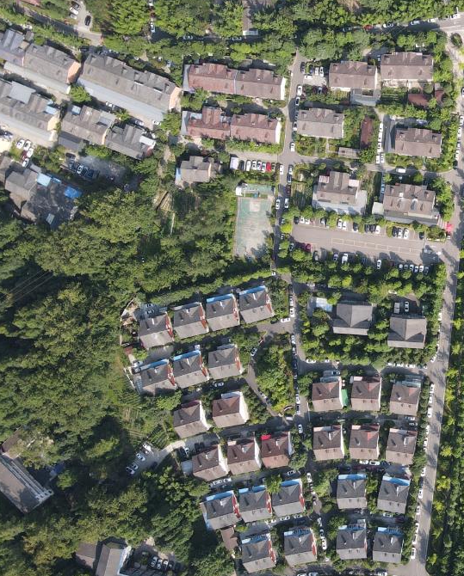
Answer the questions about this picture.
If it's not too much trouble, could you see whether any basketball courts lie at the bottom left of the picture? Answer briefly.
No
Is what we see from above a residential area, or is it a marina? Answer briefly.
residential area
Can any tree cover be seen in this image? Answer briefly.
Yes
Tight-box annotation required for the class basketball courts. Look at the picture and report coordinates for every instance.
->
[235,196,271,257]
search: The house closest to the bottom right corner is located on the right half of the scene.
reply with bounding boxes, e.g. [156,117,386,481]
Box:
[372,522,404,563]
